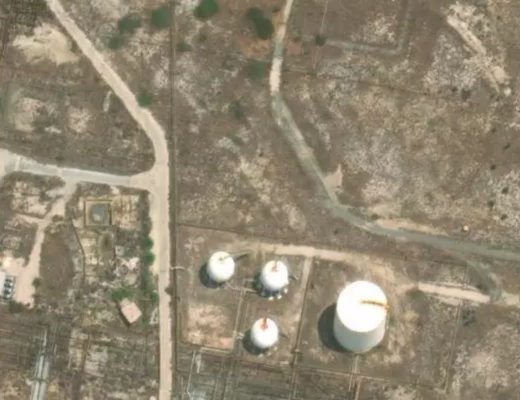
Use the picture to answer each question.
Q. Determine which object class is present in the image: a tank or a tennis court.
tank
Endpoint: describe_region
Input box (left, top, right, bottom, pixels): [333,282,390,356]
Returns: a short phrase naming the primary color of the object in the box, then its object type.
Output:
white storage tank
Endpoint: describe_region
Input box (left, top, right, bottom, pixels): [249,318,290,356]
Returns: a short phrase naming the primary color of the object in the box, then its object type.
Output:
white storage tank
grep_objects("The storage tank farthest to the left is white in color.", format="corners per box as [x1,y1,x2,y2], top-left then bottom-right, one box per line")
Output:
[206,251,251,290]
